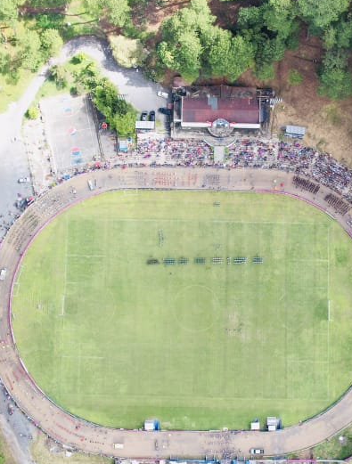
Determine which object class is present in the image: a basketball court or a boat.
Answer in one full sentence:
Of the two, only a basketball court appears.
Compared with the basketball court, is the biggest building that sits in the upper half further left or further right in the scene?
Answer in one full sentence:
The biggest building that sits in the upper half can be seen on the right of the basketball court.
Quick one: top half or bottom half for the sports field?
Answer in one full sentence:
The bottom half of the photo is where the sports field is.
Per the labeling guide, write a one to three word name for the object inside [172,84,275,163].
building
